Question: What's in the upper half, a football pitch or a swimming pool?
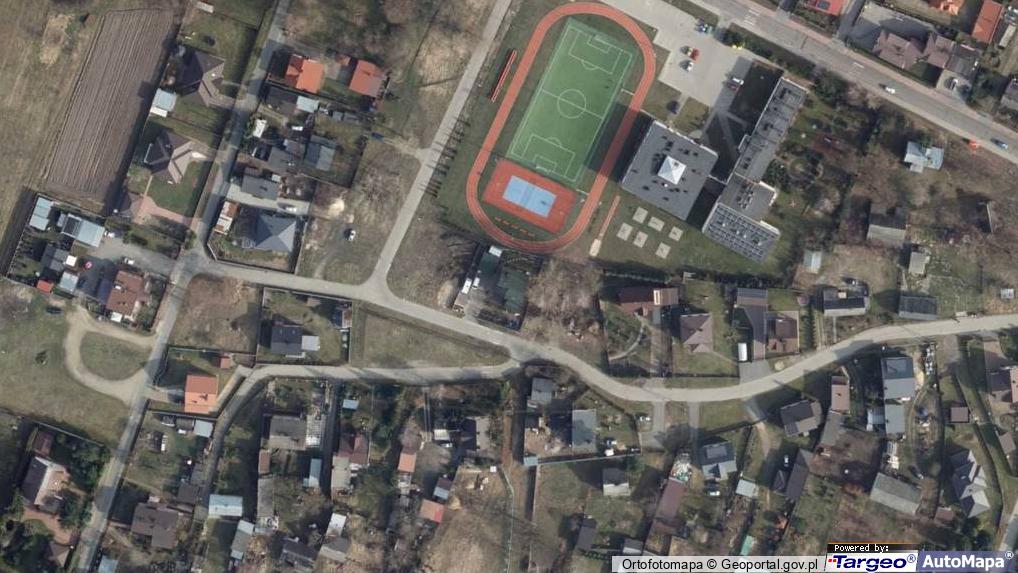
football pitch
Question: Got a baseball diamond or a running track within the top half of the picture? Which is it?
running track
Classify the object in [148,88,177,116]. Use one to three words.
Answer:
shed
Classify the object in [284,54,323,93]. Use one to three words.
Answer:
house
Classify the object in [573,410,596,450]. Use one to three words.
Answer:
barn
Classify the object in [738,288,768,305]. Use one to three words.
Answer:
building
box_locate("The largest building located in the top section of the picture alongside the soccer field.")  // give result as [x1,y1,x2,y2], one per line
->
[622,77,811,264]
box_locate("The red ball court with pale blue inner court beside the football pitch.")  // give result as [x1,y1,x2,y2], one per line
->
[483,159,577,234]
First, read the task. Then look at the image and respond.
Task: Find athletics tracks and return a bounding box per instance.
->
[466,2,655,253]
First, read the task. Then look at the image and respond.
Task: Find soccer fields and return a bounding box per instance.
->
[506,19,640,190]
